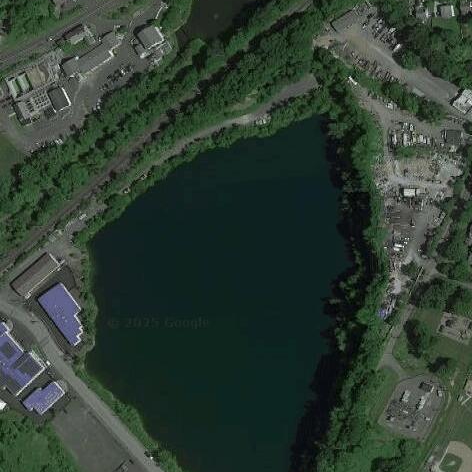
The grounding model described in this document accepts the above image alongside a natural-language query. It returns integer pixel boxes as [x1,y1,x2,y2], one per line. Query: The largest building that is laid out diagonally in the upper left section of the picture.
[63,32,126,76]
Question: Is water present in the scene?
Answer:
Yes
